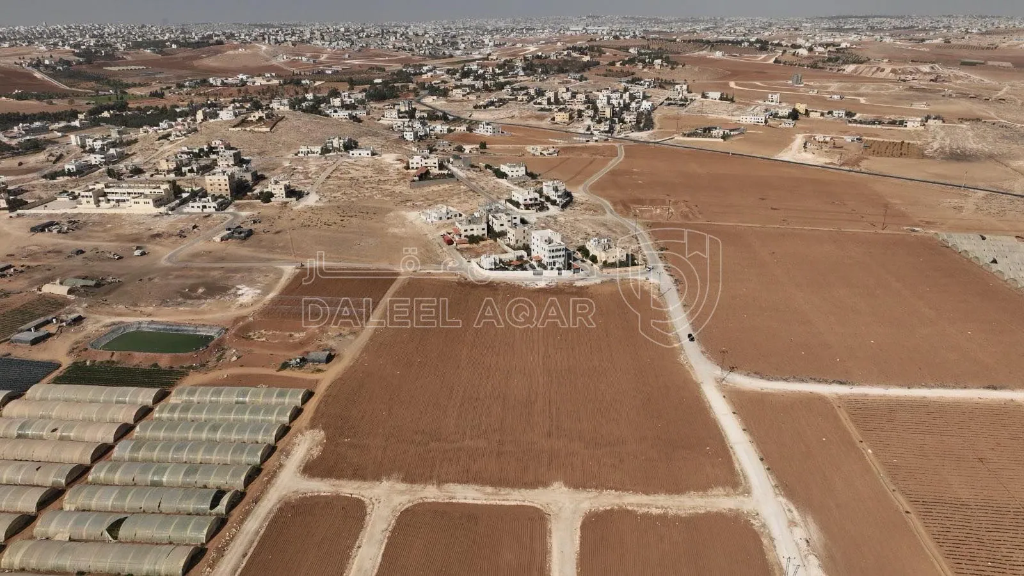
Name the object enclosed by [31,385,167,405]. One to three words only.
greenhouse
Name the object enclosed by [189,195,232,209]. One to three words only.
house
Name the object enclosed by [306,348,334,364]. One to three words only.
shed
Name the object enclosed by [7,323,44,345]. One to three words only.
building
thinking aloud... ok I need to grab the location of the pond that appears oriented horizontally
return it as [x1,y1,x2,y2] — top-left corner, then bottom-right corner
[80,323,235,360]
